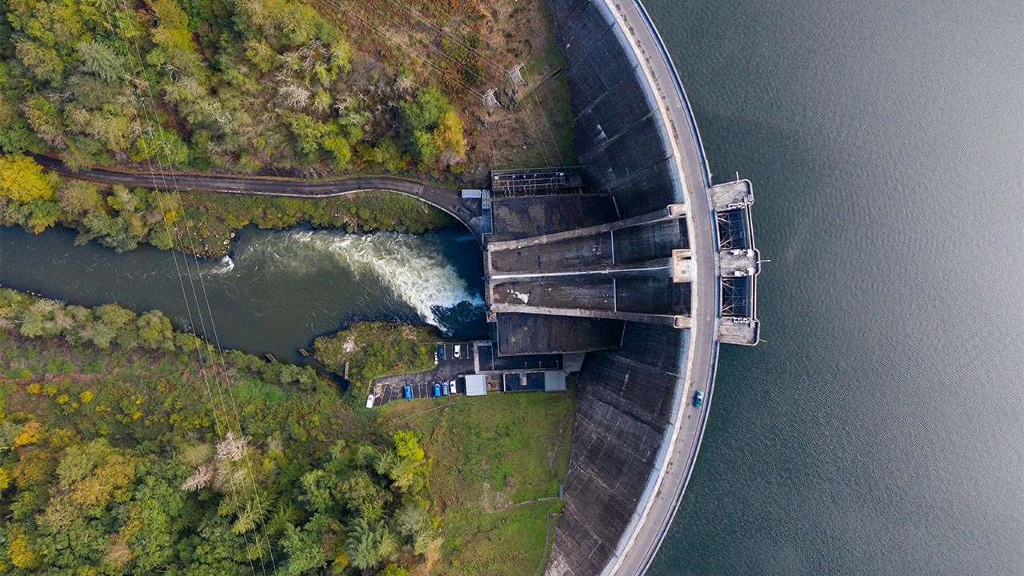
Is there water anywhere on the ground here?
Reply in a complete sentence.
Yes, water can be seen from above here.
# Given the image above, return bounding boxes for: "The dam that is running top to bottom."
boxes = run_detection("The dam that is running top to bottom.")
[487,0,761,576]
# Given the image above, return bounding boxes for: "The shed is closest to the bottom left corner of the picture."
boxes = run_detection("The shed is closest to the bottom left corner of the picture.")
[466,374,487,396]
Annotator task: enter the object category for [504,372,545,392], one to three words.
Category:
building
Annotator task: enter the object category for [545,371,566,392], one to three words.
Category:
shed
